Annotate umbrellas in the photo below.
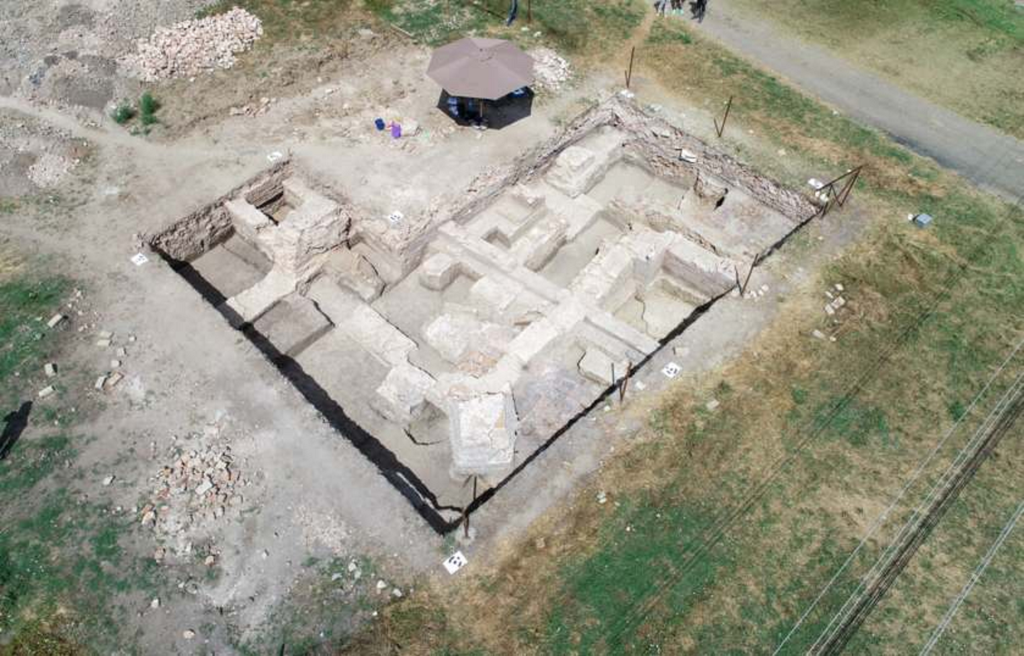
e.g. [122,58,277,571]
[424,36,537,133]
